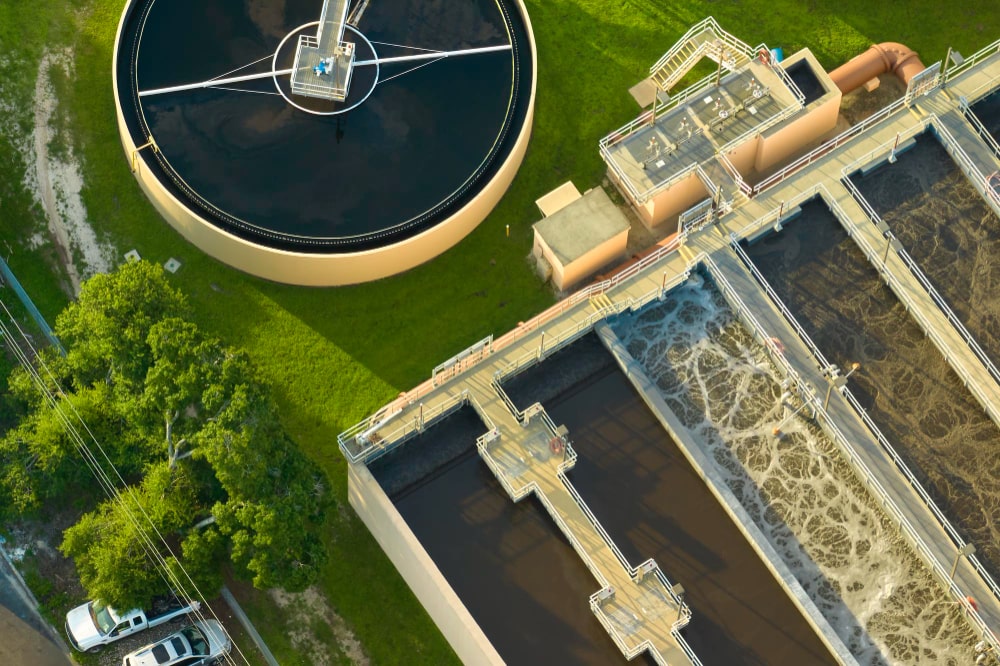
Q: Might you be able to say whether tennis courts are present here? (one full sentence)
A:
No, there isn't any tennis court down there.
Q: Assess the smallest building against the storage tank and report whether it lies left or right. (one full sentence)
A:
Relative to the storage tank, the smallest building is on the right.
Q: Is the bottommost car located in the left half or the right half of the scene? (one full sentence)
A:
It is on the left.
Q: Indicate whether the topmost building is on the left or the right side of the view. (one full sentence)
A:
The topmost building appears in the right half of the scene.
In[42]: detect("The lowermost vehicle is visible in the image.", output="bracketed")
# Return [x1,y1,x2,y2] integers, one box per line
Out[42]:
[123,618,236,666]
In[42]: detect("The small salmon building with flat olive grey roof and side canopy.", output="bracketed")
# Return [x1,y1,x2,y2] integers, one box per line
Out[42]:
[532,180,631,287]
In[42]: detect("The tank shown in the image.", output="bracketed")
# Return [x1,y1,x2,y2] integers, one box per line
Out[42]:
[113,0,537,285]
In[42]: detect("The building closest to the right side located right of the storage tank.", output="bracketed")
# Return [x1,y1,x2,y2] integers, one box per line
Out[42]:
[598,15,841,230]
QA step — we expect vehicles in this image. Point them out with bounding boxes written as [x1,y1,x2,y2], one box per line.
[123,618,236,666]
[63,567,207,656]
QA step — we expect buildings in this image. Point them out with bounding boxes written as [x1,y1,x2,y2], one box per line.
[532,180,631,287]
[598,15,841,230]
